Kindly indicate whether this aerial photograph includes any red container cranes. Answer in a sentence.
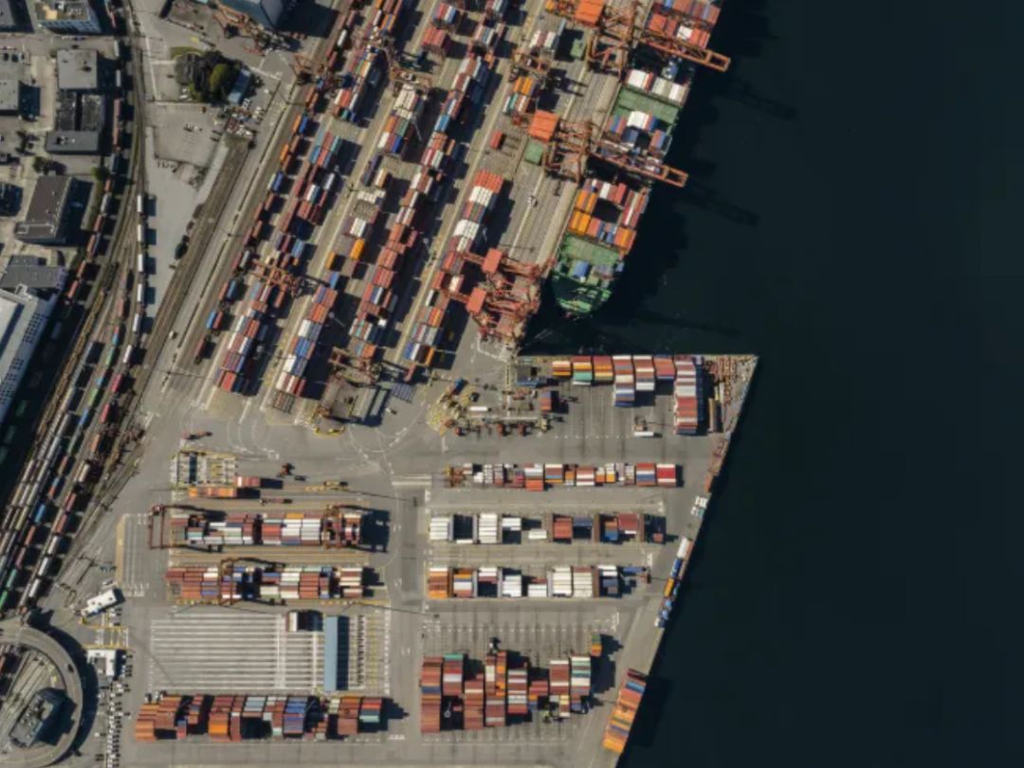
Yes, the photo shows a red container crane.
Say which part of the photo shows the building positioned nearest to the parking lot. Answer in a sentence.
The building positioned nearest to the parking lot is located in the top left region of the scene.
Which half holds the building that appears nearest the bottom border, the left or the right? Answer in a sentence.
The building that appears nearest the bottom border is on the left side of the image.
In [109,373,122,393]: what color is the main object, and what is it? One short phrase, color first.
red rail car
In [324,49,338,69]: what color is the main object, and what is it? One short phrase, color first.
red rail car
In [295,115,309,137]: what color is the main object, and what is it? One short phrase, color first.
blue rail car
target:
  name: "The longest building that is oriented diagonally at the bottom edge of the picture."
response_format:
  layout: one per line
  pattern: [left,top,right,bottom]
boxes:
[9,688,66,746]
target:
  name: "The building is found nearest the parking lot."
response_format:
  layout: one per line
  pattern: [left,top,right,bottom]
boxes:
[227,68,251,104]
